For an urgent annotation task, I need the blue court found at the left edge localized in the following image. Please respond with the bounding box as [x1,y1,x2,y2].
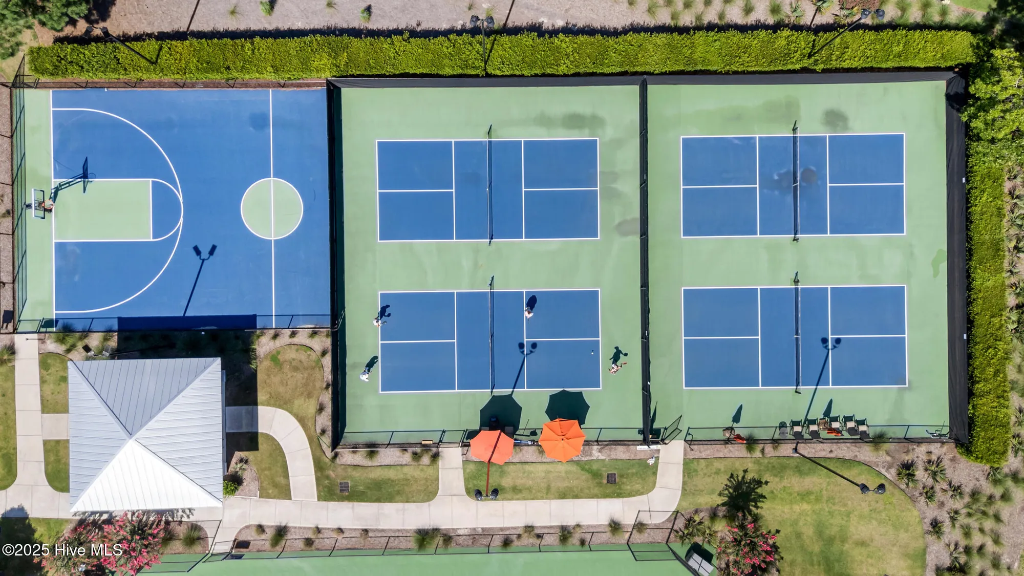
[13,88,329,332]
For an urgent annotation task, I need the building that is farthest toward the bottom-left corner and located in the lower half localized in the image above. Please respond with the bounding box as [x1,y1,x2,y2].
[68,357,229,513]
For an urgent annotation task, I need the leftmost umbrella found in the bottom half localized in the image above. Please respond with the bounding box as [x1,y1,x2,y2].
[470,430,514,465]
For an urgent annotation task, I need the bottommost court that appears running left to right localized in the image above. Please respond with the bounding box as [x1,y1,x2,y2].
[145,542,718,576]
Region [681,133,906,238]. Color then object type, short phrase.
blue sports court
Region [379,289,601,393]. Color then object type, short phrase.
blue sports court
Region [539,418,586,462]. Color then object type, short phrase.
orange umbrella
